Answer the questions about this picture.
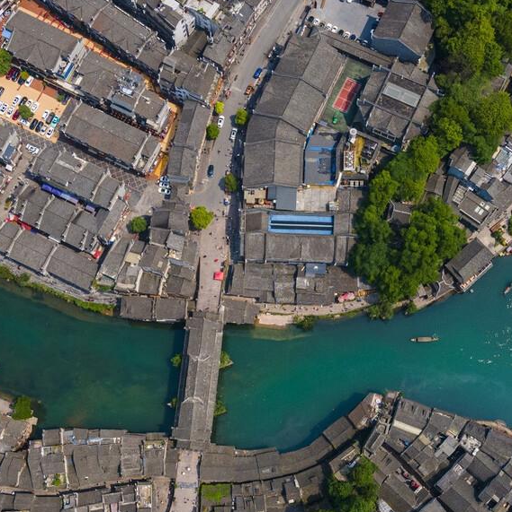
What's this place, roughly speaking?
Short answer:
residential area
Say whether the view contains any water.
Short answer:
Yes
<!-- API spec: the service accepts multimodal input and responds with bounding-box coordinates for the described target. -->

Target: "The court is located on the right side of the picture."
[318,57,369,127]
